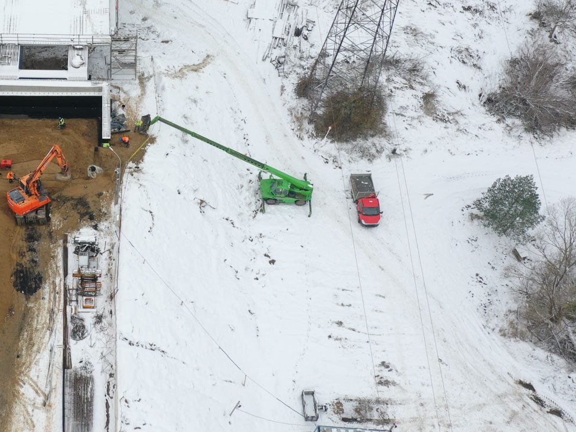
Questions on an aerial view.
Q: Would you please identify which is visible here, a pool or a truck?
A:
truck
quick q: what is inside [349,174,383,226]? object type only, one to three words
truck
